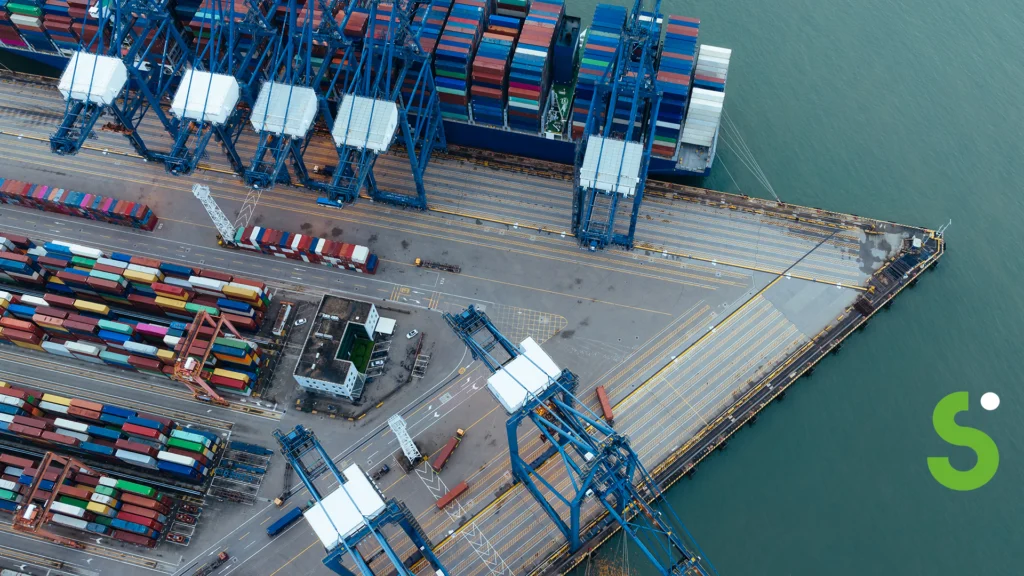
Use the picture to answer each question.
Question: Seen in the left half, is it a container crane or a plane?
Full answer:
You can see a container crane in the left half.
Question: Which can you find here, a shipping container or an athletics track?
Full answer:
The image shows a shipping container.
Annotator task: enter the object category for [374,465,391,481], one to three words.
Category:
vehicle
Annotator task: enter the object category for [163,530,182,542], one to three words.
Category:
vehicle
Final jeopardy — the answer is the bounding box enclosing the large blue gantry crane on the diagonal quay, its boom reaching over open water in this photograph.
[445,304,730,576]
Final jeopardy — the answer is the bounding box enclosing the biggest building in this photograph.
[290,294,379,399]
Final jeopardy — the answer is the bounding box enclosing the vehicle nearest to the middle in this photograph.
[415,256,460,271]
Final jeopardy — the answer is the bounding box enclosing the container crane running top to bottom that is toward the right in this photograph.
[570,0,668,248]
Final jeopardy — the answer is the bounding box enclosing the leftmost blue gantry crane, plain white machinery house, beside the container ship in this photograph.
[44,0,225,168]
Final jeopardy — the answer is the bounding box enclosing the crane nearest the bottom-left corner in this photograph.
[2,449,92,546]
